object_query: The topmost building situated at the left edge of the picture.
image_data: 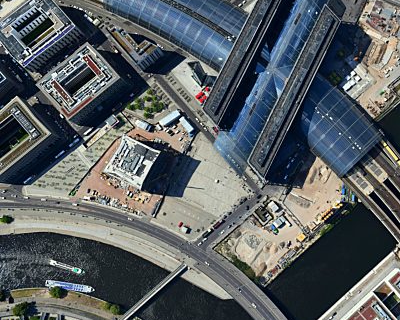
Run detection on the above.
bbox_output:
[0,0,82,71]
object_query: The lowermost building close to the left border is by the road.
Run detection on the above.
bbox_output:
[0,97,59,184]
